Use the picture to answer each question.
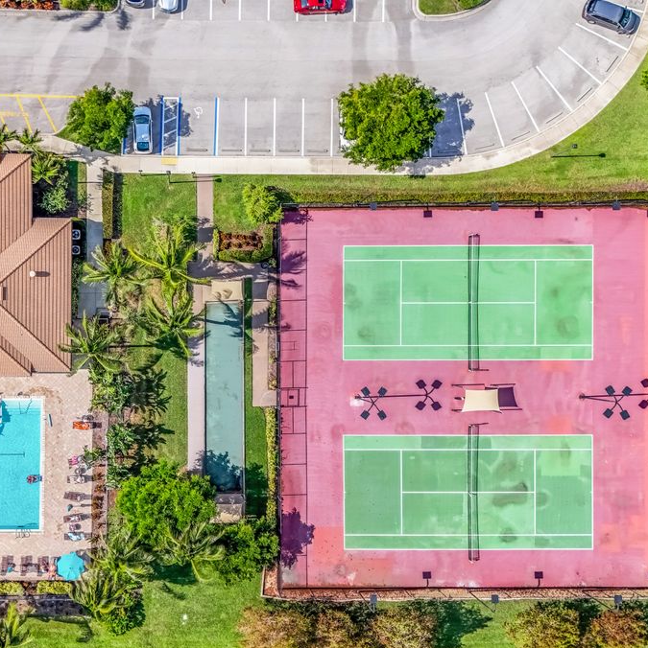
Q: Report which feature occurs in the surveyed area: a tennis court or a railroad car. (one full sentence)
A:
The one in the frame is a tennis court.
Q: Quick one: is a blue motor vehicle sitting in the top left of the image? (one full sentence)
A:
Yes, looking in the top left of the image, one can make out a blue motor vehicle.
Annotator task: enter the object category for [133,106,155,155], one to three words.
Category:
car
